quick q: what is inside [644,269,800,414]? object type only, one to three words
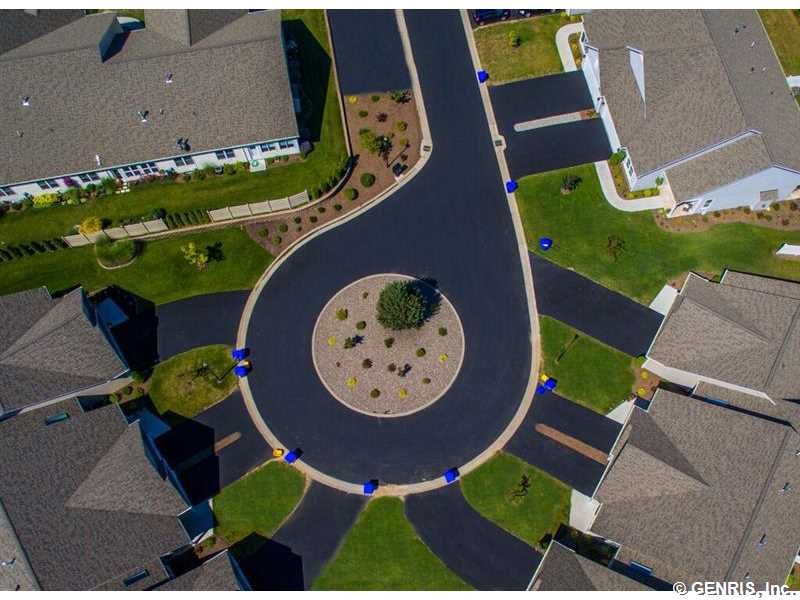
house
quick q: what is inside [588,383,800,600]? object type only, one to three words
house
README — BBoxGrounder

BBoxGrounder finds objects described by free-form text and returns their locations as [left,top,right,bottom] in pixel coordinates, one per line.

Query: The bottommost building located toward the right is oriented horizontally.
[521,541,670,600]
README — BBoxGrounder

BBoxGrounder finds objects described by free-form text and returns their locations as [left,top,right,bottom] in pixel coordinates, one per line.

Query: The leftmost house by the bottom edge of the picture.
[0,398,195,600]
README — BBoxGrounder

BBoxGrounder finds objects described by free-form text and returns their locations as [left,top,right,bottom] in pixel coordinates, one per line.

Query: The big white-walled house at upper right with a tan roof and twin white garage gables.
[555,0,800,221]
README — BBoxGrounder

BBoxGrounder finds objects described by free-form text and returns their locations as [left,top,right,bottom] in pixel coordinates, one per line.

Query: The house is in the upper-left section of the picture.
[0,0,299,199]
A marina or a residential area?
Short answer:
residential area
